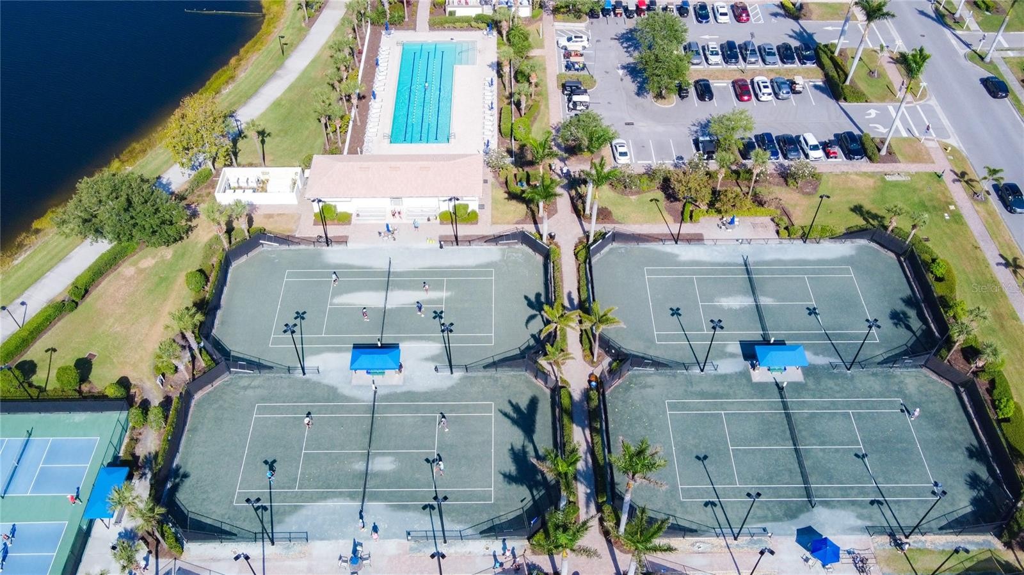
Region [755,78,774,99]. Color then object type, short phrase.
white car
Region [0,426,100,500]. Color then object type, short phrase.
blue sports court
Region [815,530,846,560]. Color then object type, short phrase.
blue umbrella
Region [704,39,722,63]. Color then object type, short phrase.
white car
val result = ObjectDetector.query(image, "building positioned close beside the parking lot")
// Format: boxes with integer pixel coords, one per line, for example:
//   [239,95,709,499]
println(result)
[304,154,483,212]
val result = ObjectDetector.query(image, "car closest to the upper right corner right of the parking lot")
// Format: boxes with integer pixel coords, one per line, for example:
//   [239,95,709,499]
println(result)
[982,74,1014,95]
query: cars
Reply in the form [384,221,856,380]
[612,137,629,161]
[686,39,704,63]
[841,129,865,157]
[714,3,730,21]
[742,39,761,62]
[996,177,1024,208]
[776,42,794,62]
[737,129,758,157]
[695,2,711,21]
[773,76,792,97]
[755,78,774,99]
[733,0,751,19]
[760,42,778,63]
[982,74,1014,95]
[723,39,741,62]
[801,130,824,158]
[558,33,590,49]
[696,77,714,99]
[734,78,753,99]
[794,39,814,63]
[781,130,804,158]
[704,39,722,63]
[760,129,781,157]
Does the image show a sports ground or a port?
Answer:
sports ground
